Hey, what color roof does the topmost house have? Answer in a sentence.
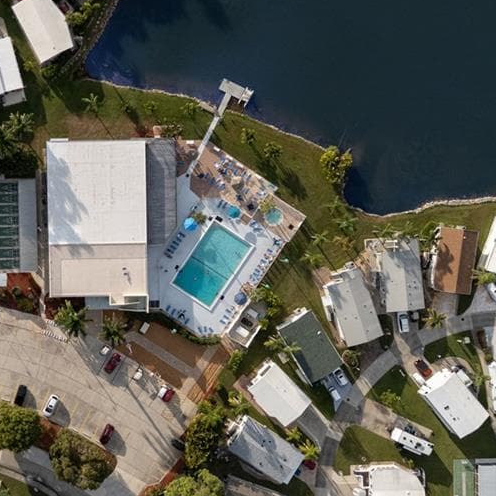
From above, the roof of the topmost house looks white.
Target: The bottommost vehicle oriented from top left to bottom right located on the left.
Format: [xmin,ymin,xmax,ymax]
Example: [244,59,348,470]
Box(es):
[167,436,186,453]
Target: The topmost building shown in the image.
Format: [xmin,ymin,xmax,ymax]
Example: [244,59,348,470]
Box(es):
[12,0,74,65]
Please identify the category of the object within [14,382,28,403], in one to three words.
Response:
car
